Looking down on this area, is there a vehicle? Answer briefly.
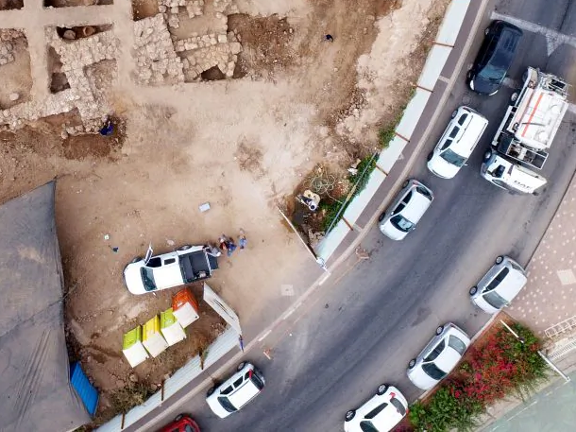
Yes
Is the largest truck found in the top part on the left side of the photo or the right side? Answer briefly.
right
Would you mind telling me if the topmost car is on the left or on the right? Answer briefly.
right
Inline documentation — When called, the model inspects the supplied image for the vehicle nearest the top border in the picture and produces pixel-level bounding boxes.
[464,16,526,102]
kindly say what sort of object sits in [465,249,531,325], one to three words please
car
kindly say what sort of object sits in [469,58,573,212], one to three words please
truck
